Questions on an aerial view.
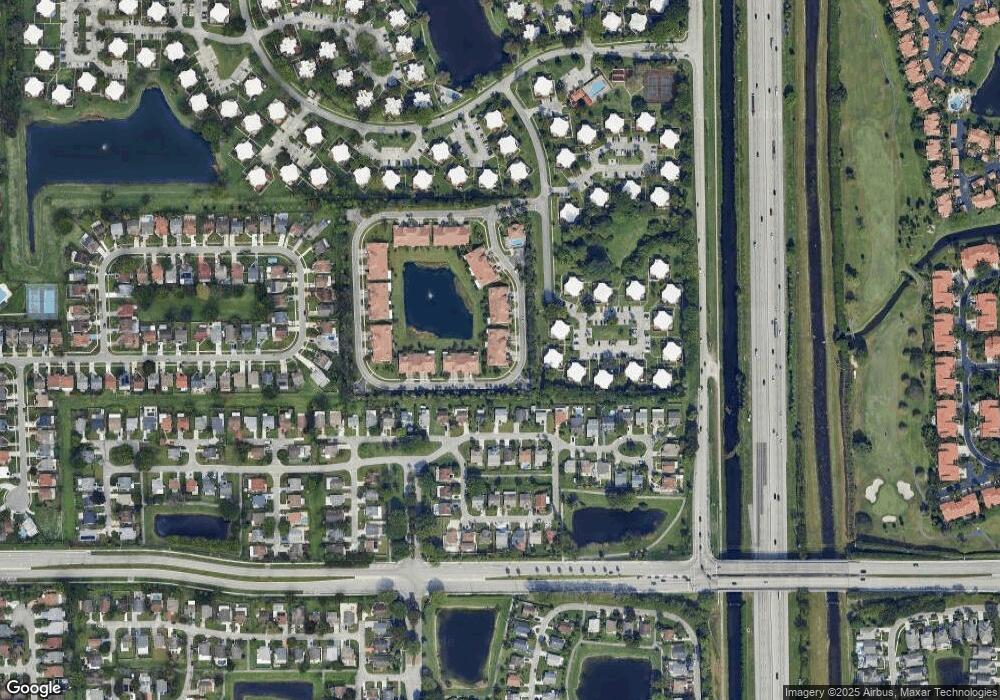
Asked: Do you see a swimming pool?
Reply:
Yes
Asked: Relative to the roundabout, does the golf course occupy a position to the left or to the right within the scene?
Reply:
right of it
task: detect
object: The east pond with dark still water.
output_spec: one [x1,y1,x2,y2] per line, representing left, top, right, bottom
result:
[571,506,665,548]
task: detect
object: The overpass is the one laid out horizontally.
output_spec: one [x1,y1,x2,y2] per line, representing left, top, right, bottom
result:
[715,558,851,592]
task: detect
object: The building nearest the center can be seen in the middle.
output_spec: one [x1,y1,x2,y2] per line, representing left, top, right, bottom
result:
[486,328,520,366]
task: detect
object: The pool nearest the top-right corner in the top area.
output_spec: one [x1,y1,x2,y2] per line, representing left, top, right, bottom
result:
[947,88,971,112]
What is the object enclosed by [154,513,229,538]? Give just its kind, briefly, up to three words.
pond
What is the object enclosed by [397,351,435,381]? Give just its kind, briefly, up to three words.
building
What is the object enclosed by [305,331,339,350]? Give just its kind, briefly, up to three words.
house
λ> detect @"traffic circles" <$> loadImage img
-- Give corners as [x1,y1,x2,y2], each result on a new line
[612,434,651,462]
